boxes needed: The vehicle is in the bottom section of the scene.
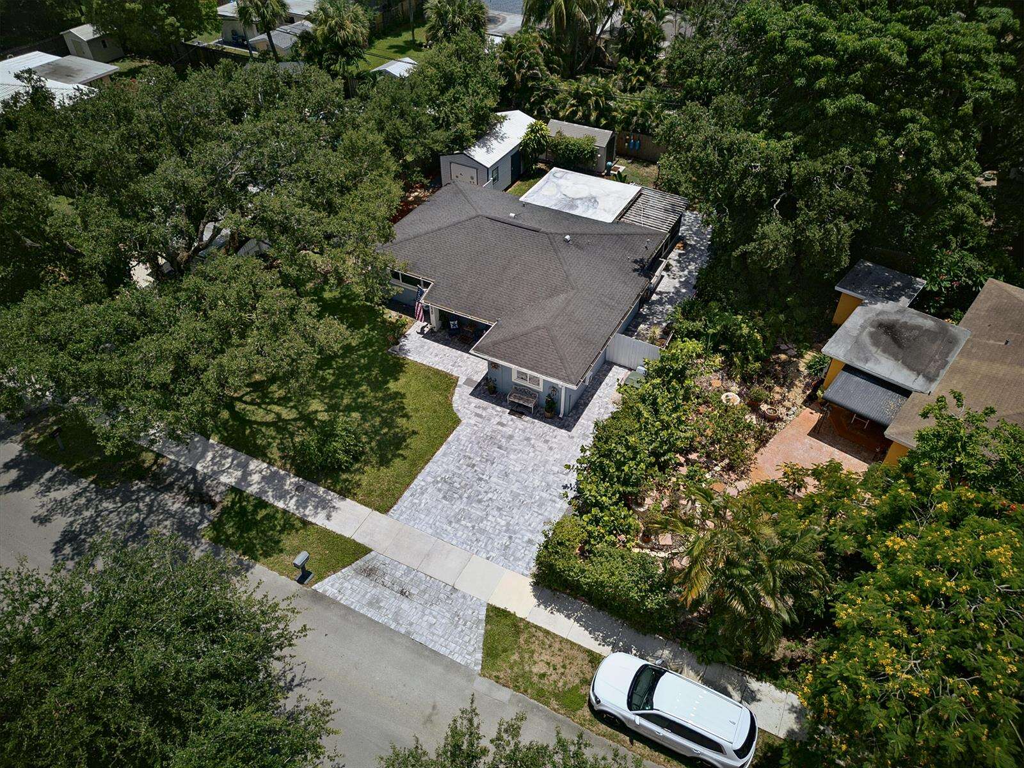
[596,658,751,768]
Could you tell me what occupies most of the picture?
trees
